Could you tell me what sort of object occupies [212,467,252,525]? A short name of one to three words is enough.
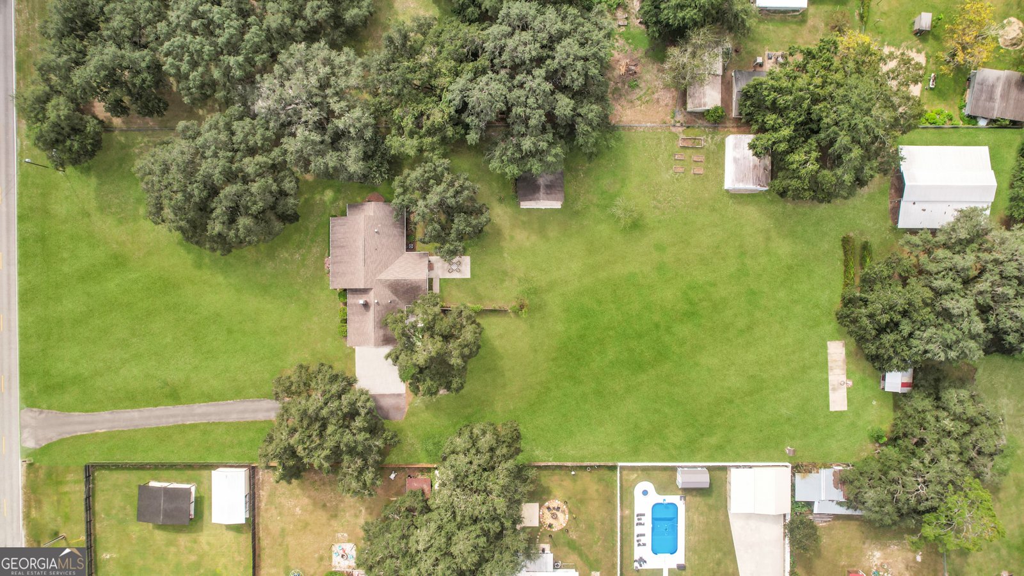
building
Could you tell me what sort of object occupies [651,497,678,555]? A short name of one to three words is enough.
swimming pool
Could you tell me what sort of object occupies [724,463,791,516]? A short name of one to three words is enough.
building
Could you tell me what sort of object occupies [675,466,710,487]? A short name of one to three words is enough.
shed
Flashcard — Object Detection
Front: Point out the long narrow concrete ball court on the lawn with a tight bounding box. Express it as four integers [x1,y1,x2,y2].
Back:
[828,341,847,411]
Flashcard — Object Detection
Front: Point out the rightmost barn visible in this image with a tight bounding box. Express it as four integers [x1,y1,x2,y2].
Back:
[965,68,1024,124]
